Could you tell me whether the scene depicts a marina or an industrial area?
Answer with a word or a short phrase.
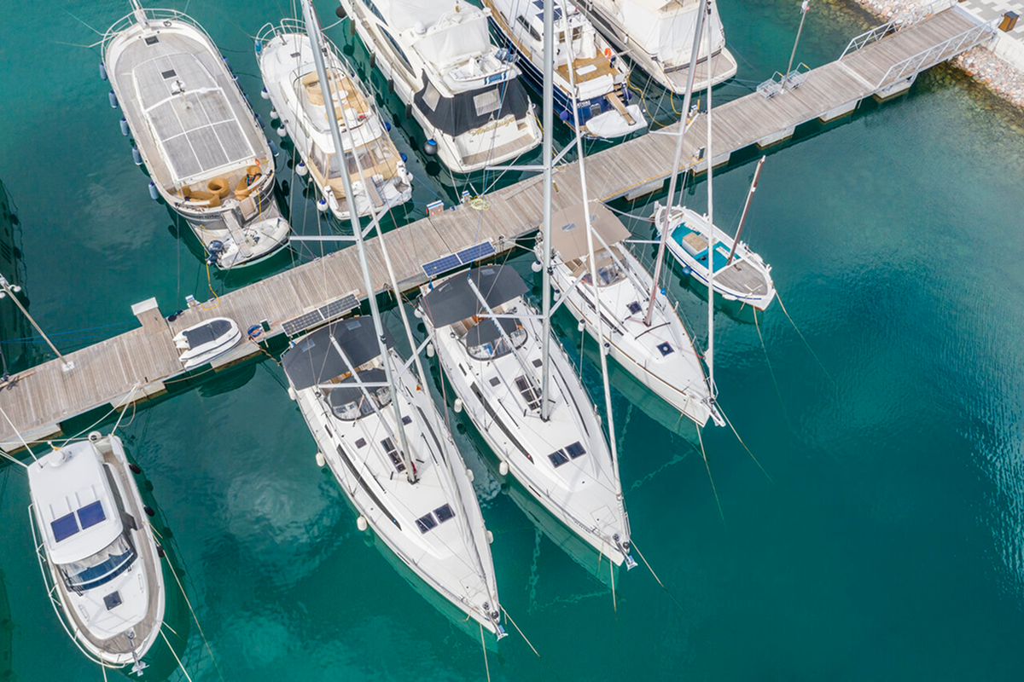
marina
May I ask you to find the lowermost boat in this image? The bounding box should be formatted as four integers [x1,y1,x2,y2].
[28,423,165,682]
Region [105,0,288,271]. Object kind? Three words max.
boat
